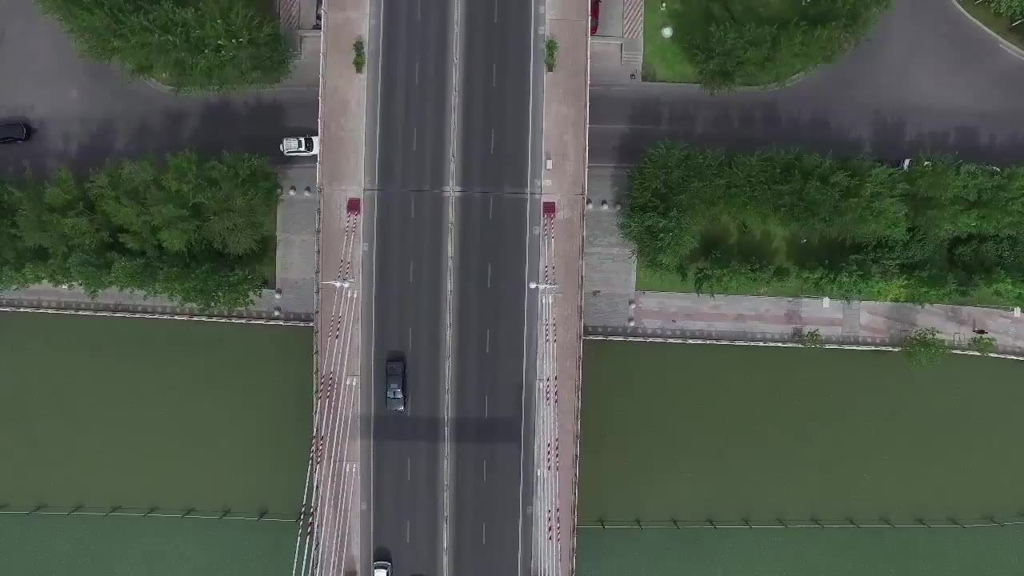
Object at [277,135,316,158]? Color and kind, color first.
white car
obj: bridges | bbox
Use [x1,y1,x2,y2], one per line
[291,0,592,576]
